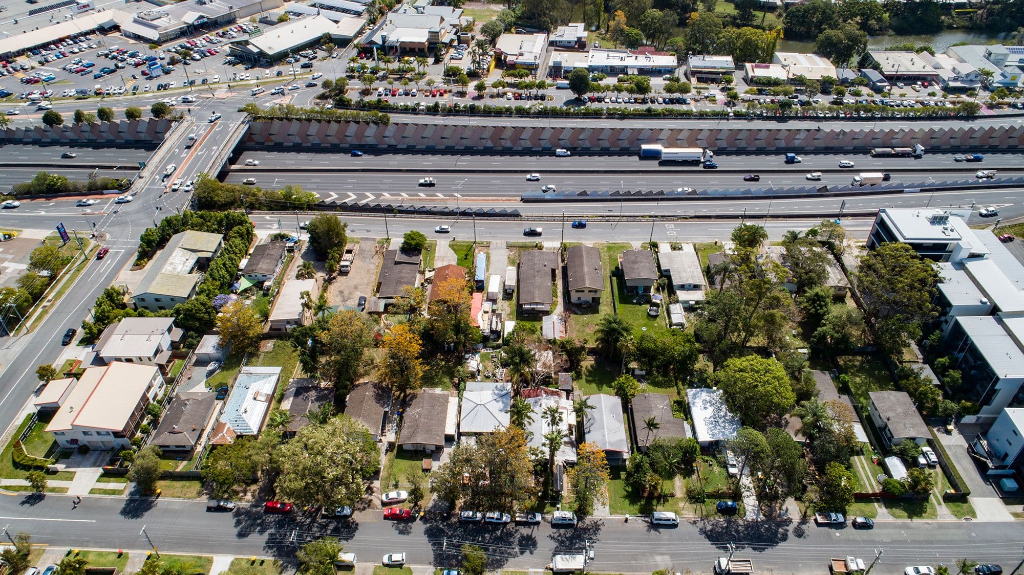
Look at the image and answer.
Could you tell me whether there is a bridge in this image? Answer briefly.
Yes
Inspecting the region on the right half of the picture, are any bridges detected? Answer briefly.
No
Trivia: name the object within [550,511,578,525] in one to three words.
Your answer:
vehicle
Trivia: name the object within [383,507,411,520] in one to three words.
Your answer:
vehicle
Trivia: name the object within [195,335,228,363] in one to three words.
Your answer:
shed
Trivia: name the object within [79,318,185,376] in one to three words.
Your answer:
house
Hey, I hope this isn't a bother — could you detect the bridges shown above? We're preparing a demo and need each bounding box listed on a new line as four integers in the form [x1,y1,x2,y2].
[129,116,249,196]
